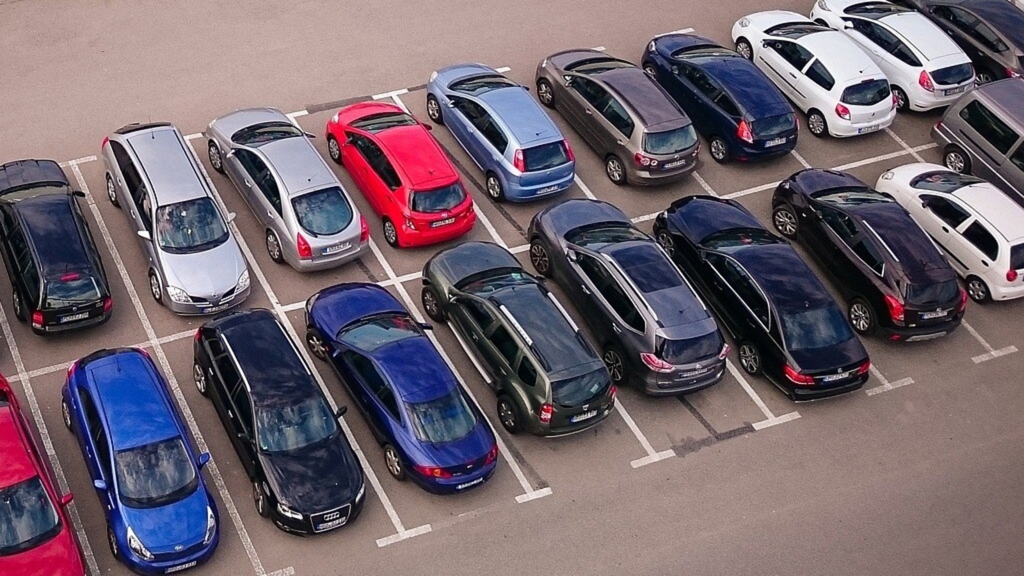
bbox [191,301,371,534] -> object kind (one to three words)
car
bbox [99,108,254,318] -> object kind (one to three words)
car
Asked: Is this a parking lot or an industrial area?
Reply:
parking lot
